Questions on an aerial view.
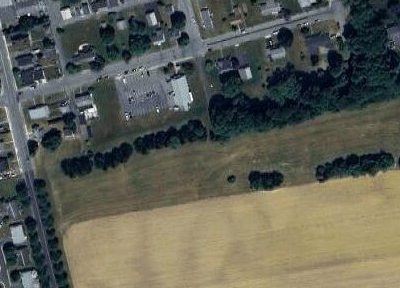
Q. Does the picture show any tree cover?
Yes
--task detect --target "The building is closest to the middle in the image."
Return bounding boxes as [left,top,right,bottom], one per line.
[172,76,193,111]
